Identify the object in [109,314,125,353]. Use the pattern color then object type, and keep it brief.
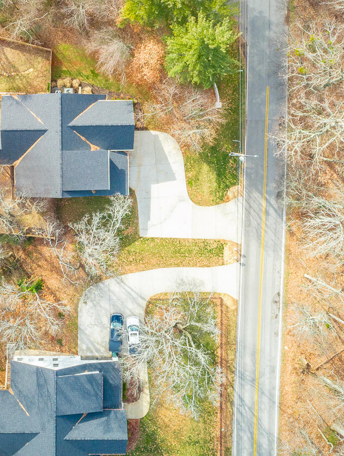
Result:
blue vehicle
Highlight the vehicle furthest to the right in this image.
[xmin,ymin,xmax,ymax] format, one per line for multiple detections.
[125,317,141,357]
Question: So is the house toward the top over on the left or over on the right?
left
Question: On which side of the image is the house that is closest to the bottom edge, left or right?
left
